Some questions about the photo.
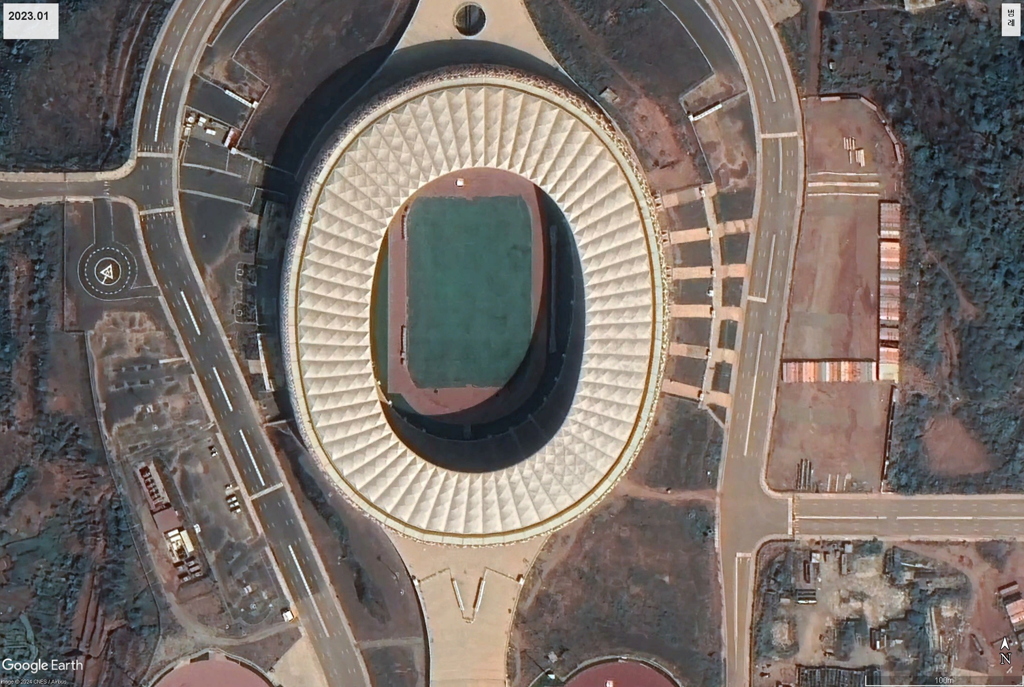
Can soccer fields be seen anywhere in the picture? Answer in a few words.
Yes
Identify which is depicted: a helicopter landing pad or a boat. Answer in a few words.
helicopter landing pad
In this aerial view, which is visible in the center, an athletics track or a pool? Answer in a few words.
athletics track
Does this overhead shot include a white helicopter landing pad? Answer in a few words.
No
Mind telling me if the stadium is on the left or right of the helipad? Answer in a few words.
right of it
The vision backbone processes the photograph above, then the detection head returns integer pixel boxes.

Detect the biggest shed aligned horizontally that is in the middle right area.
[782,359,876,381]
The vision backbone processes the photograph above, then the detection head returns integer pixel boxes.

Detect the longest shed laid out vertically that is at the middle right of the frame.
[879,241,900,325]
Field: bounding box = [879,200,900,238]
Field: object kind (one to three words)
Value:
shed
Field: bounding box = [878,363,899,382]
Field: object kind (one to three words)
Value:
shed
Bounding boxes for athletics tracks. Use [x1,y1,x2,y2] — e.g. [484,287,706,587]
[389,168,546,423]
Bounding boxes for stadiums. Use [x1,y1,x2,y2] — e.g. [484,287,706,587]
[277,61,668,550]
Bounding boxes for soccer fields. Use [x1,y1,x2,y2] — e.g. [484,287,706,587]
[406,195,532,388]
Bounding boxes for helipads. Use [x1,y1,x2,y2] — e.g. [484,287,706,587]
[78,206,157,301]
